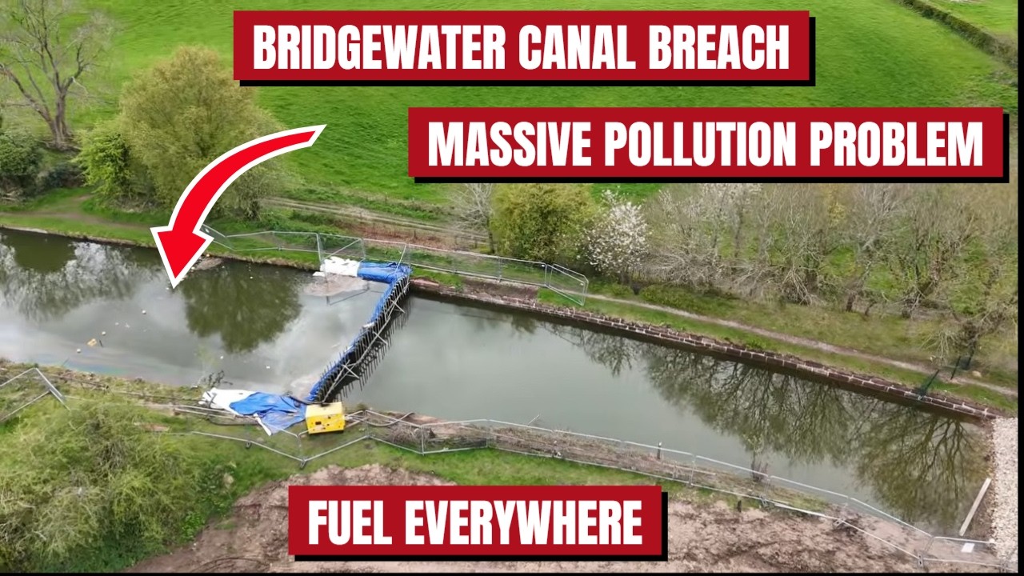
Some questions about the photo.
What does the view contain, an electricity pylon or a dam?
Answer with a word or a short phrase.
dam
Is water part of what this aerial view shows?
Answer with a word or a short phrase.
Yes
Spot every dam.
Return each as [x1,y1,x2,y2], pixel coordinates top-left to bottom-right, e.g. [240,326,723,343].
[301,272,414,406]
